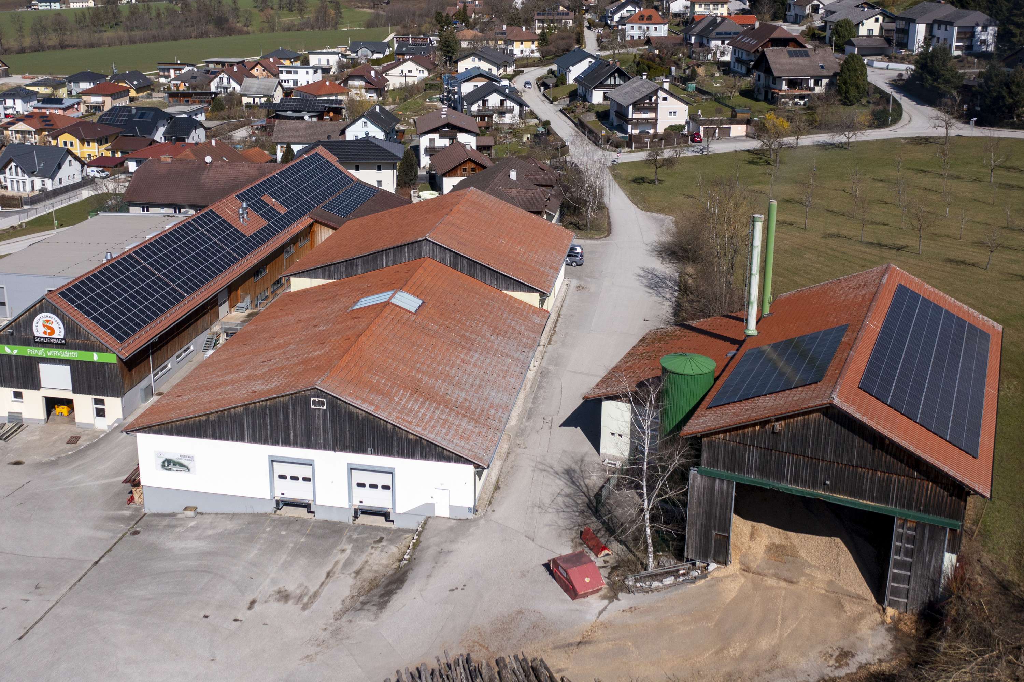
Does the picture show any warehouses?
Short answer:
Yes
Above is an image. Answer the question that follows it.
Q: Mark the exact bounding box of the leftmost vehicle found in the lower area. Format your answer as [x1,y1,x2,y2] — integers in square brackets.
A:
[62,403,76,421]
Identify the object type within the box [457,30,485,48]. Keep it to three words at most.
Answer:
house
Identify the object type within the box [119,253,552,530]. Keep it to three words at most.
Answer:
warehouse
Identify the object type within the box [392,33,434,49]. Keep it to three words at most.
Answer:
house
